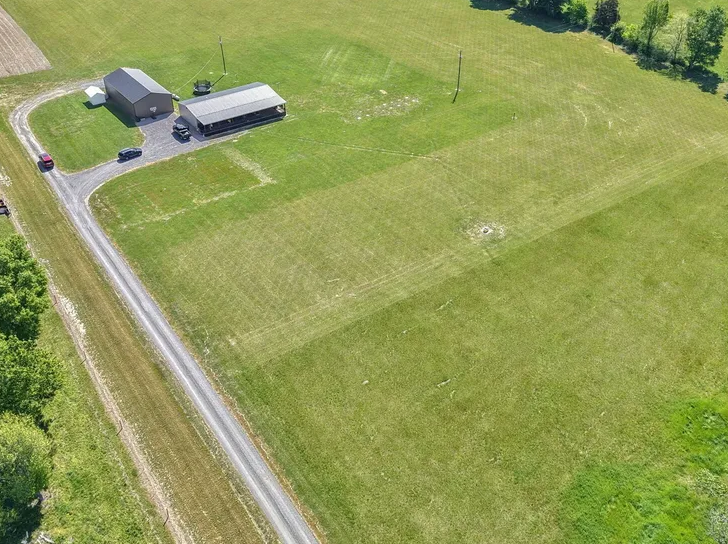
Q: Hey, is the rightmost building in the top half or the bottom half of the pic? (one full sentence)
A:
The top half of the photo is where the rightmost building is.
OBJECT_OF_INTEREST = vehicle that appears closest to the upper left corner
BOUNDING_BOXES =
[35,154,50,169]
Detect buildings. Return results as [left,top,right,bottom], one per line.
[102,66,174,119]
[85,88,104,105]
[181,81,287,135]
